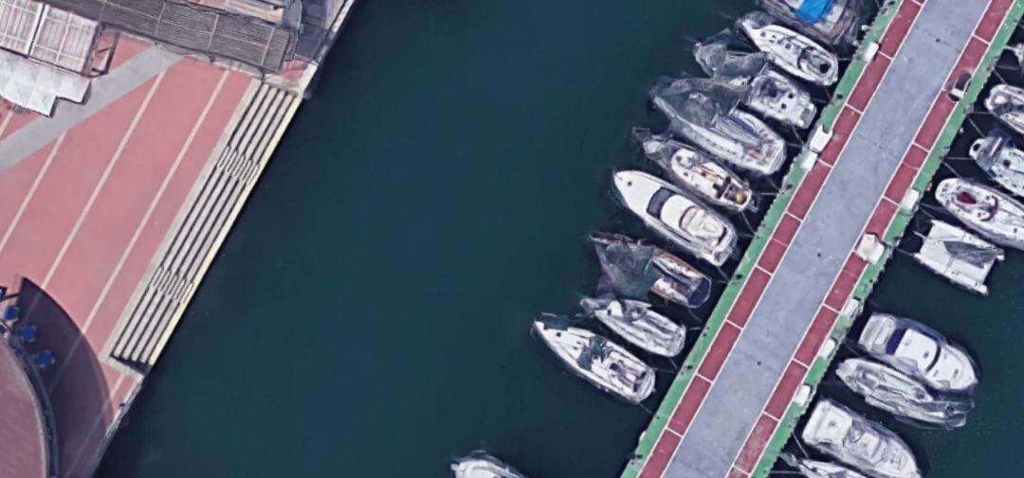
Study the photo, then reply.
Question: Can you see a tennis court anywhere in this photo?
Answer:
No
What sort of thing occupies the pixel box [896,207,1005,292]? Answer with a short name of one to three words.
boat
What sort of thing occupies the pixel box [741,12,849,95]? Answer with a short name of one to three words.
boat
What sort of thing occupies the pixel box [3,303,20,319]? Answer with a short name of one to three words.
umbrella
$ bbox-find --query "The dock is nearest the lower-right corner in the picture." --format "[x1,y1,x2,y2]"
[620,0,1024,478]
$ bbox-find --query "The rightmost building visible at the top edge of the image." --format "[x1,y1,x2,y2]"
[198,0,309,60]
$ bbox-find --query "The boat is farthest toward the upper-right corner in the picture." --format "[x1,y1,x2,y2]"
[996,41,1024,90]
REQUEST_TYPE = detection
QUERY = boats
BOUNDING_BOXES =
[612,172,763,279]
[896,207,1005,292]
[579,296,706,378]
[759,0,881,44]
[633,129,780,232]
[964,116,1024,199]
[697,30,836,140]
[589,234,729,324]
[781,435,847,478]
[847,284,981,385]
[794,401,923,478]
[450,457,521,478]
[651,88,804,197]
[996,41,1024,90]
[919,165,1024,254]
[818,337,974,420]
[741,12,849,95]
[532,314,688,415]
[969,64,1024,141]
